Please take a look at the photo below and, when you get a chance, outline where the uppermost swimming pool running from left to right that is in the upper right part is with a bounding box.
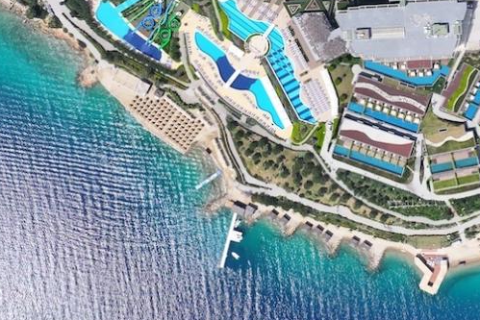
[364,60,450,87]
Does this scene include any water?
Yes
